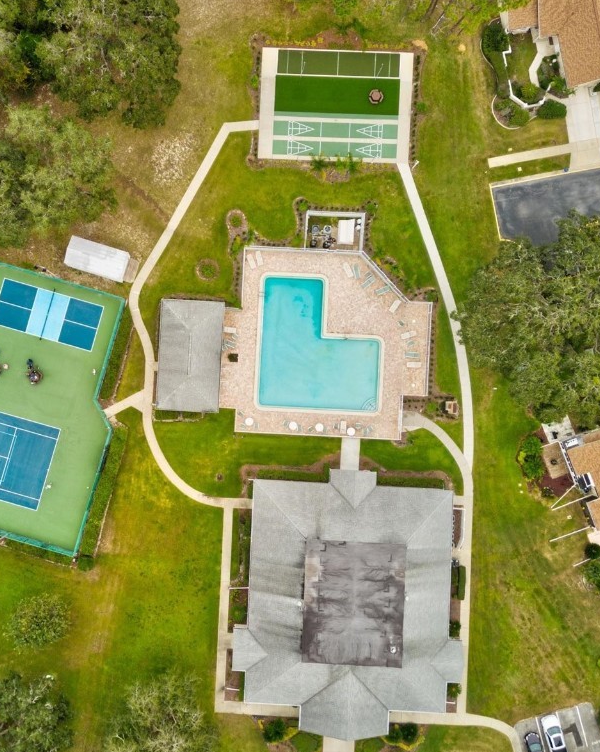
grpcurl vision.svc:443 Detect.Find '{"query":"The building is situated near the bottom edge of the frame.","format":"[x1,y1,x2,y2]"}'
[231,468,465,741]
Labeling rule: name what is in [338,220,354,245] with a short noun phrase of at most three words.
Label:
shed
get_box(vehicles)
[524,732,544,752]
[540,713,567,752]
